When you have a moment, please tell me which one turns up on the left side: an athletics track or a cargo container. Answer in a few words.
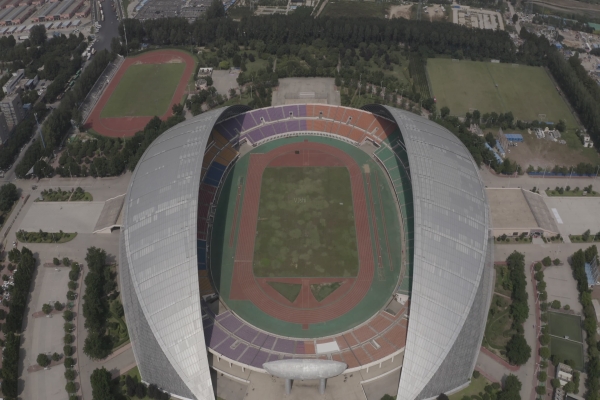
athletics track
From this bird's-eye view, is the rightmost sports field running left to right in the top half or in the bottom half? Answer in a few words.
top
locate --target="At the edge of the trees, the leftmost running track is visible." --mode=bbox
[87,47,198,140]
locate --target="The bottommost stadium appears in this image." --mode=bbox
[93,93,562,400]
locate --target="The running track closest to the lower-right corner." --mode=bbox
[203,134,409,340]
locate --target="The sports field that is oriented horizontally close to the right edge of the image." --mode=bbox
[427,59,580,128]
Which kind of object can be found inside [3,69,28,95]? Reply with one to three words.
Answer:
building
